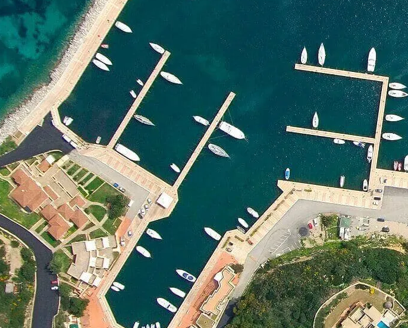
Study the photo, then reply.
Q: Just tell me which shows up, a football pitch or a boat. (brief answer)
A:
boat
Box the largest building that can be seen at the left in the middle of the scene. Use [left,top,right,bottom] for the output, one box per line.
[11,154,93,240]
